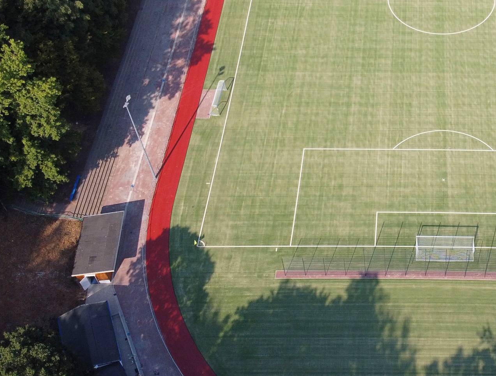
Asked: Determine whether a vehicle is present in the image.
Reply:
No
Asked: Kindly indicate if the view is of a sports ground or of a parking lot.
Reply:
sports ground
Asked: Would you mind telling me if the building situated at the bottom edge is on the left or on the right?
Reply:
left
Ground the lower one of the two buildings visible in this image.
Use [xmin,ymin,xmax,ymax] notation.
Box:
[57,300,126,376]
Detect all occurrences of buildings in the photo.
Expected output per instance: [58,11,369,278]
[57,300,126,376]
[65,211,123,291]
